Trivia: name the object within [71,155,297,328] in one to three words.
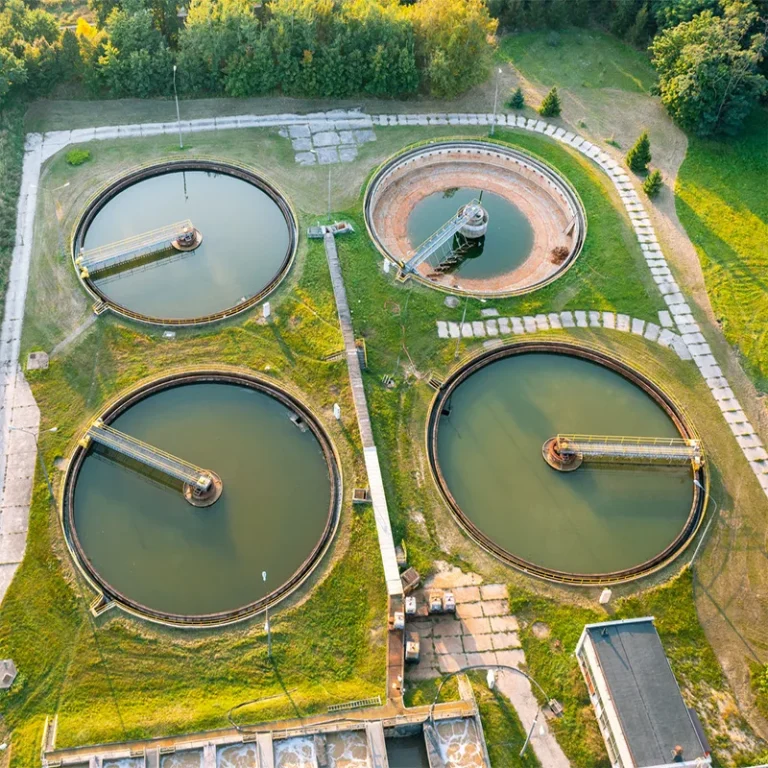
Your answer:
storage tank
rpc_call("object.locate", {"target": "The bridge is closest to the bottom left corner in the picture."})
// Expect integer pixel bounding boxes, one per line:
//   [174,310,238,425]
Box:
[81,418,211,493]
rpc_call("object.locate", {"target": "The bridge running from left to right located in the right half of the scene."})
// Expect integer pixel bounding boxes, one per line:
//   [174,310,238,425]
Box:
[557,436,703,471]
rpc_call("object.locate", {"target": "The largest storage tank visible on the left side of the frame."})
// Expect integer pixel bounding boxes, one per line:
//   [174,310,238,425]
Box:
[61,365,342,630]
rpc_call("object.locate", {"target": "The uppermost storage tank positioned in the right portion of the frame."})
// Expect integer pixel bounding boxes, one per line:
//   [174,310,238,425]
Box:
[363,135,586,301]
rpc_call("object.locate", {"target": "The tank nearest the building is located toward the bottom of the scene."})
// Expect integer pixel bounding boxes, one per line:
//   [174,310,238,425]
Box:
[424,337,707,589]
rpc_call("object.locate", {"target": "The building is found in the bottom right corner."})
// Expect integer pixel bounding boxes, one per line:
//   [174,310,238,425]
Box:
[573,616,715,768]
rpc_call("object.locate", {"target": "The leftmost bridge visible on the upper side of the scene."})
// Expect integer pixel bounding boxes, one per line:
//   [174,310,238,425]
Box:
[74,221,191,273]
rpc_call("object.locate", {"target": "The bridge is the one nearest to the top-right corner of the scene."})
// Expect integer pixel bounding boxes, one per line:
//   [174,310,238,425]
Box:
[397,198,484,278]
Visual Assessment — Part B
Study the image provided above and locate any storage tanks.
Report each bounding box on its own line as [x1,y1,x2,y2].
[61,365,342,630]
[424,337,707,589]
[71,155,297,328]
[363,135,586,301]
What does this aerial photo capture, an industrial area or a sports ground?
industrial area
